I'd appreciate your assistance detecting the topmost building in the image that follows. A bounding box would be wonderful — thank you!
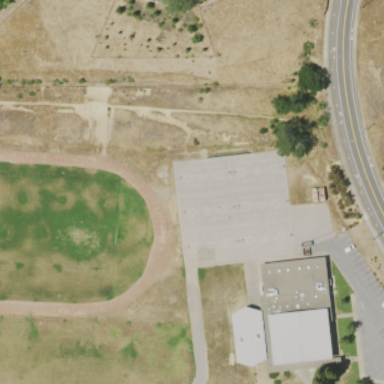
[264,256,334,314]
